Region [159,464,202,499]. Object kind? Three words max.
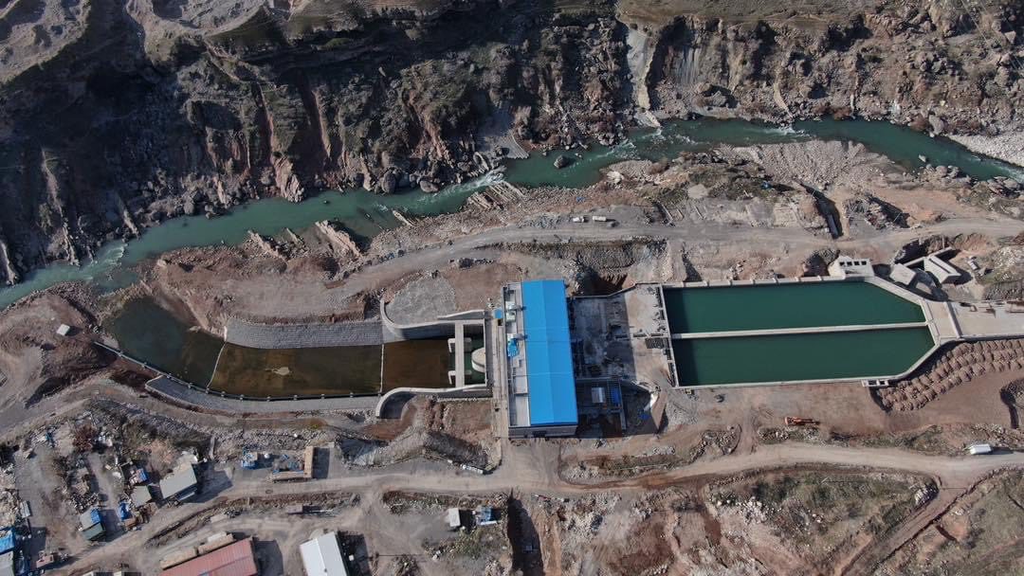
house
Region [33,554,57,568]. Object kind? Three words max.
vehicle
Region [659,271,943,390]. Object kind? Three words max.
pond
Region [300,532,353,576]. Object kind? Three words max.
building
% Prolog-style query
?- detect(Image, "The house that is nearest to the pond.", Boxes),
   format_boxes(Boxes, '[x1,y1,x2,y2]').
[828,256,875,282]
